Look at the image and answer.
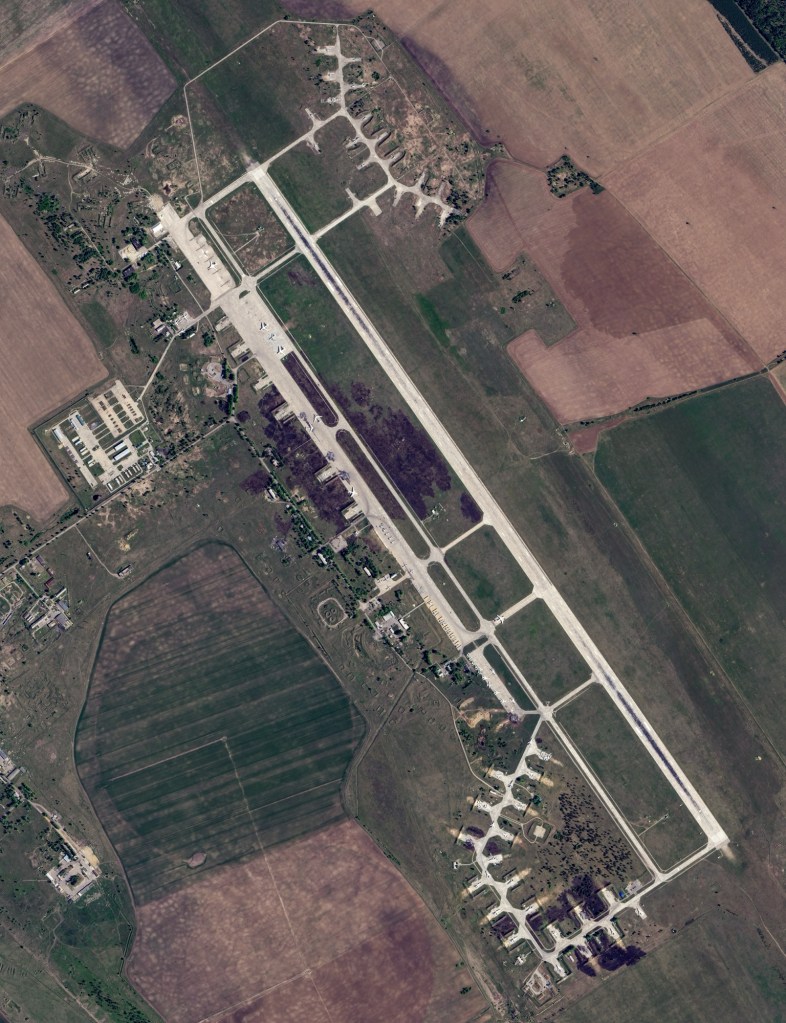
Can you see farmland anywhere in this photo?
Yes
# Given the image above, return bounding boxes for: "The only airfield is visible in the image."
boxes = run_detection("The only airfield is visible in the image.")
[147,24,731,984]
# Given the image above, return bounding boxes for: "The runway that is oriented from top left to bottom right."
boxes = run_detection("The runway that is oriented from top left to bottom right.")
[252,167,729,848]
